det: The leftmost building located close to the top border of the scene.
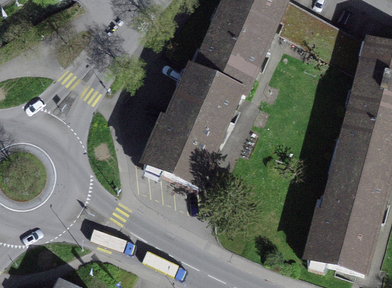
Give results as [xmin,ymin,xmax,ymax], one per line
[190,0,290,92]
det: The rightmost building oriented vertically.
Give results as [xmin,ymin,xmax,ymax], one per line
[302,35,392,284]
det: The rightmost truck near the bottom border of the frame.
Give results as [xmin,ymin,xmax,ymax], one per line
[144,252,188,282]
